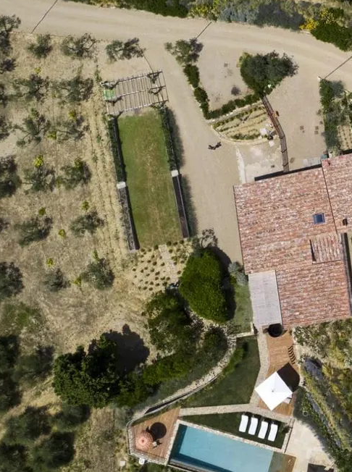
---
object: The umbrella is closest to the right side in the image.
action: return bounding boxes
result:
[255,371,292,410]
